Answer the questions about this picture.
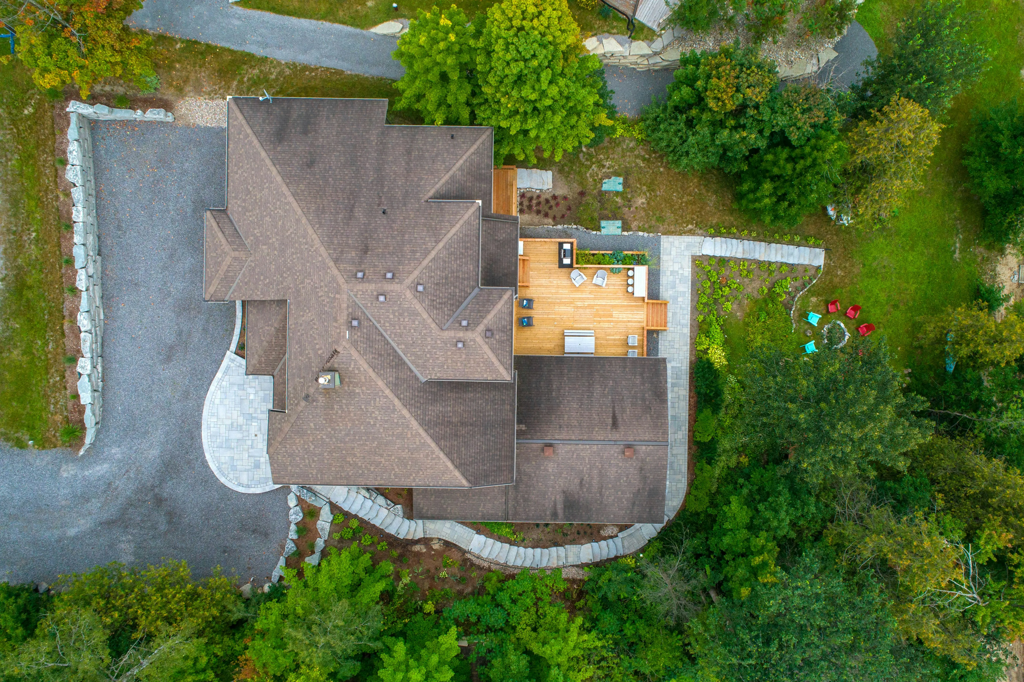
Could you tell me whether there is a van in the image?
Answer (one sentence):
No, no van is visible in the view.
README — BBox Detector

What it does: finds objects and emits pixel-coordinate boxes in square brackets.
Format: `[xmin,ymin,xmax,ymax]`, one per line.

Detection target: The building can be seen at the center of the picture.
[201,94,669,526]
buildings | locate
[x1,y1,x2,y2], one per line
[603,0,639,18]
[201,94,669,526]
